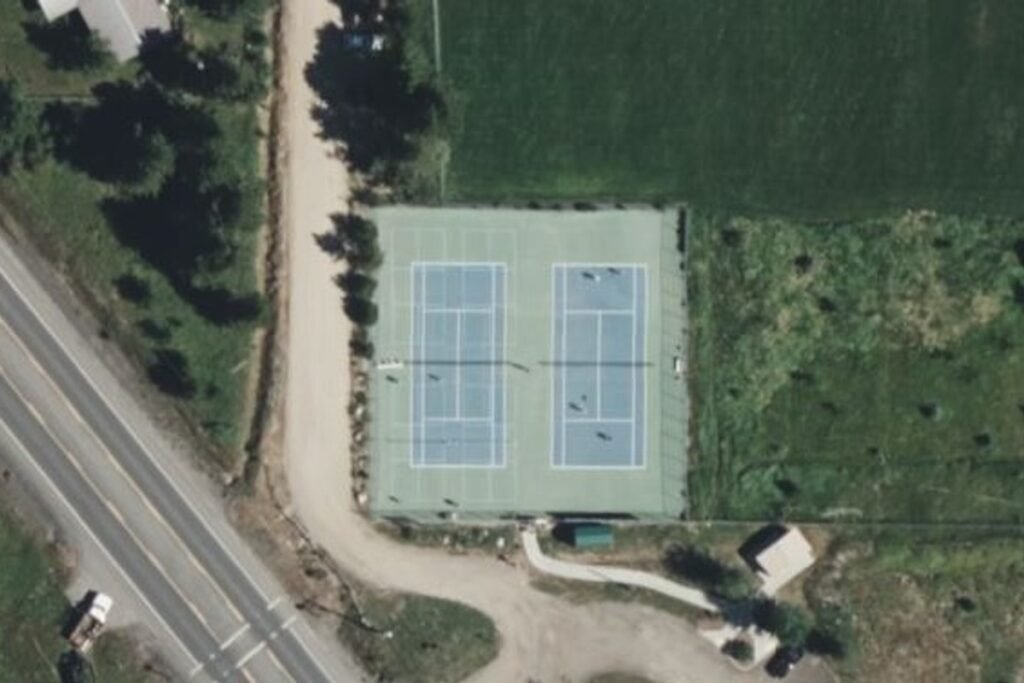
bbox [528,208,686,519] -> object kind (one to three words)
tennis court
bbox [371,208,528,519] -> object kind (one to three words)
tennis court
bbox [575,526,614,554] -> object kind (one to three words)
shed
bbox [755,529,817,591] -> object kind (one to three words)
building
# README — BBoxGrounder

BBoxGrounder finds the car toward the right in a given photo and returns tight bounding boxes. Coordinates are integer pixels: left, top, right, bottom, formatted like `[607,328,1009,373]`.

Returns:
[765,642,806,677]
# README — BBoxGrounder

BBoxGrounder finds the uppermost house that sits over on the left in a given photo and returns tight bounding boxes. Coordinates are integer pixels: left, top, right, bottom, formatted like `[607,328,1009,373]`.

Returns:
[39,0,170,67]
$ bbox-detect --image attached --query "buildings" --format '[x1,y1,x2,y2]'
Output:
[755,529,817,591]
[39,0,170,67]
[575,526,614,554]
